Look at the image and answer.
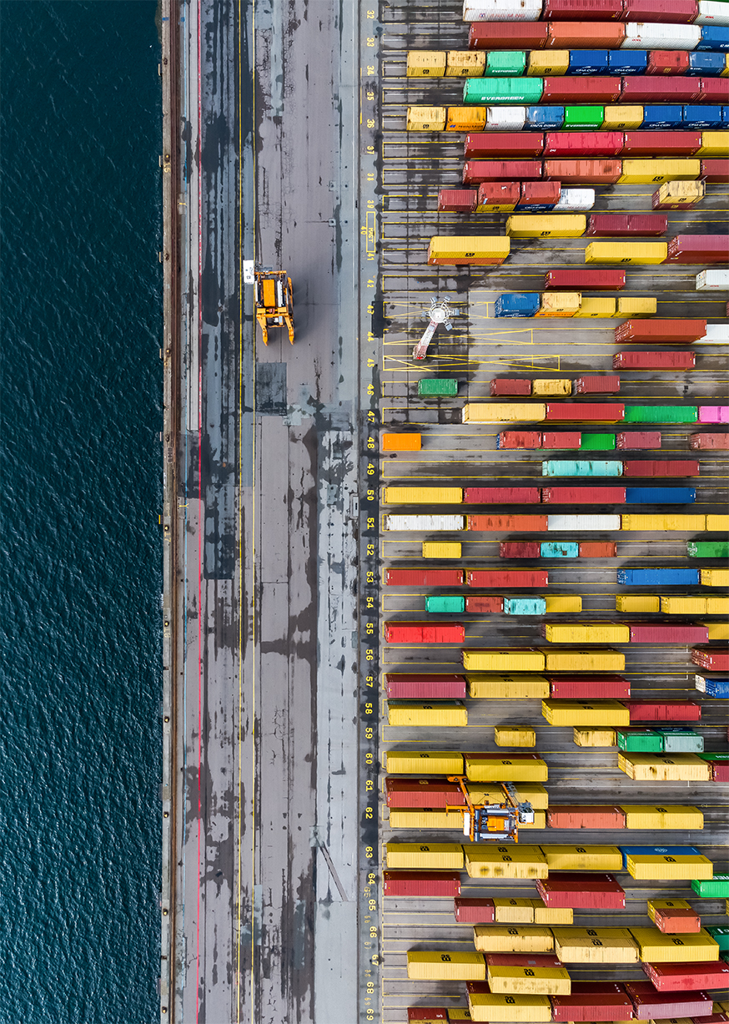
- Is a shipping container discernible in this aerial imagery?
Yes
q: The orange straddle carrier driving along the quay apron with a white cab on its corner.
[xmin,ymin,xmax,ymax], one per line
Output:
[241,259,296,347]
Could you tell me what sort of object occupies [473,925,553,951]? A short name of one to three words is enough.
shipping container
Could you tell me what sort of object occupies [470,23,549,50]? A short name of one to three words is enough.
shipping container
